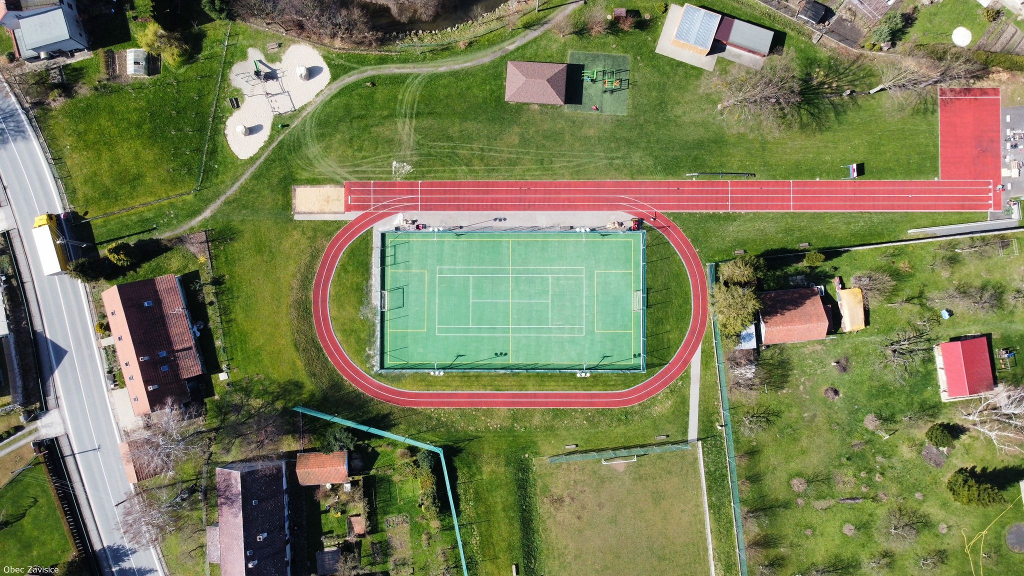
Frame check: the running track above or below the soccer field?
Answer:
above it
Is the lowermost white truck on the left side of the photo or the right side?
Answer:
left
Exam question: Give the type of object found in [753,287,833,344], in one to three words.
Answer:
house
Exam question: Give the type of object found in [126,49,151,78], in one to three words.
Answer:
greenhouse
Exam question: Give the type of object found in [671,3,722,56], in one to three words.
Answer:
building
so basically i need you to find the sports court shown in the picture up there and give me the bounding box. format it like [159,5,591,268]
[383,233,642,371]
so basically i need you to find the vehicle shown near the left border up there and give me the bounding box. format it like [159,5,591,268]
[32,213,73,276]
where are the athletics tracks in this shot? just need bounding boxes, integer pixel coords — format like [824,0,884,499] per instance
[313,87,1002,408]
